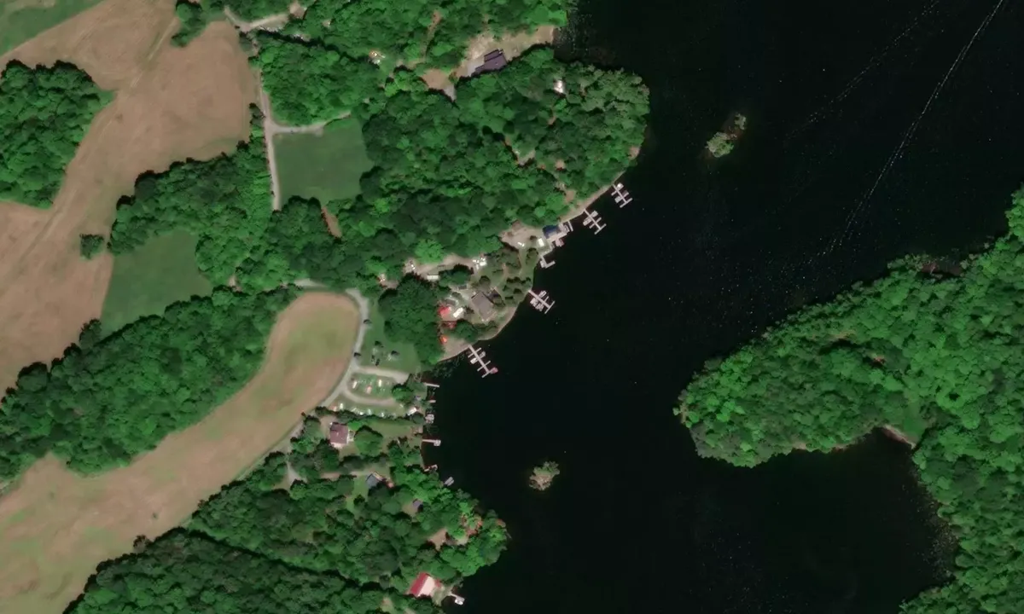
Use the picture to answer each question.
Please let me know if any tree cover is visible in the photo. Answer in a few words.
Yes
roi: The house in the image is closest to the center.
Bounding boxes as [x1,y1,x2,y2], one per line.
[470,292,498,321]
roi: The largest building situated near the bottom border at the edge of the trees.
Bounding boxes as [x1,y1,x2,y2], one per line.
[409,571,436,600]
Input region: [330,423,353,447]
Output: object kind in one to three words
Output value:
house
